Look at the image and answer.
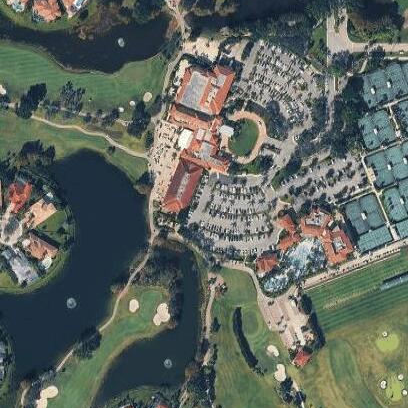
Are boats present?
No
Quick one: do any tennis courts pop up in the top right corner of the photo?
Yes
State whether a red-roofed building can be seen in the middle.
Yes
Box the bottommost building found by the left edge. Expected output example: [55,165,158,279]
[13,251,37,282]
